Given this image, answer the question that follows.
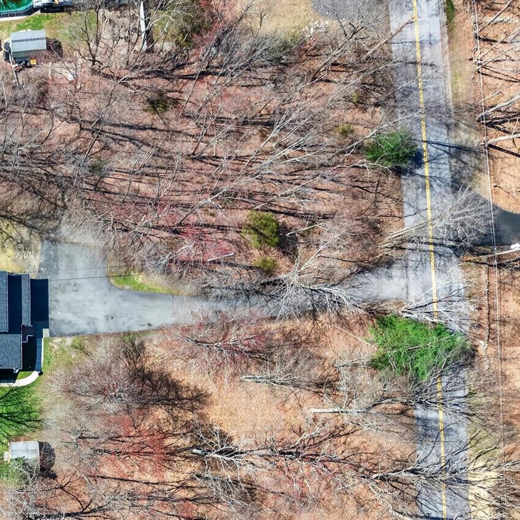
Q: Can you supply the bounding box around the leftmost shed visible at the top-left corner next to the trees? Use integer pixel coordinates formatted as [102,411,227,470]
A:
[11,29,47,65]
